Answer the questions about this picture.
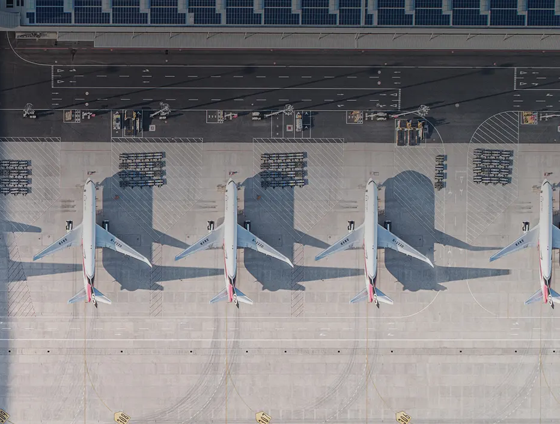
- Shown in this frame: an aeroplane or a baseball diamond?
aeroplane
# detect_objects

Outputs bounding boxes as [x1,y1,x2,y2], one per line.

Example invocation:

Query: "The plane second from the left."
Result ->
[175,179,297,307]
